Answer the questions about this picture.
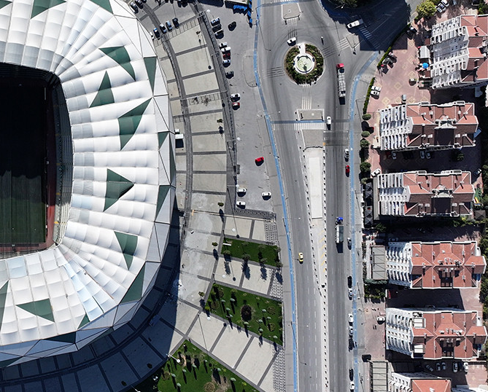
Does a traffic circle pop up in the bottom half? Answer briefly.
No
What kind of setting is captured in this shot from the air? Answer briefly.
sports ground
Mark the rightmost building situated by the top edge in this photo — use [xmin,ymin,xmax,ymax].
[430,15,488,85]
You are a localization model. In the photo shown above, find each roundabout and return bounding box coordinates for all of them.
[284,43,325,84]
